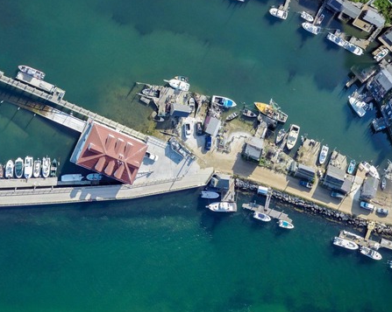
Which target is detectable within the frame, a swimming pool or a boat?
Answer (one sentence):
The one in the frame is a boat.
